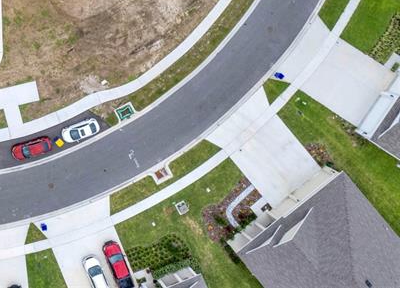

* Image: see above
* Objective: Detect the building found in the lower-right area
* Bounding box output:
[227,164,400,288]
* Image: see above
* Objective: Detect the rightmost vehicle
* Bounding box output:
[104,240,137,288]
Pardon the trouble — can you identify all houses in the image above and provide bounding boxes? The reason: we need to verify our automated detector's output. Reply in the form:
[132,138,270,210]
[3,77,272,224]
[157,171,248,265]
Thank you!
[147,264,207,288]
[359,74,400,164]
[227,164,400,288]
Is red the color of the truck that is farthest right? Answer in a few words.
Yes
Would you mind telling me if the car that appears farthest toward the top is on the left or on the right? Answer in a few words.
left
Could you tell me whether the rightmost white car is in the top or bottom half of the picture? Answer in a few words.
bottom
